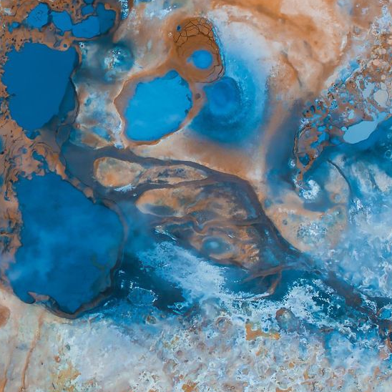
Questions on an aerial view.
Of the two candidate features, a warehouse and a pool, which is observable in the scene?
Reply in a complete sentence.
This aerial view contains a pool.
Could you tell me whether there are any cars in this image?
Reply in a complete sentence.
No, no car is visible in the view.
